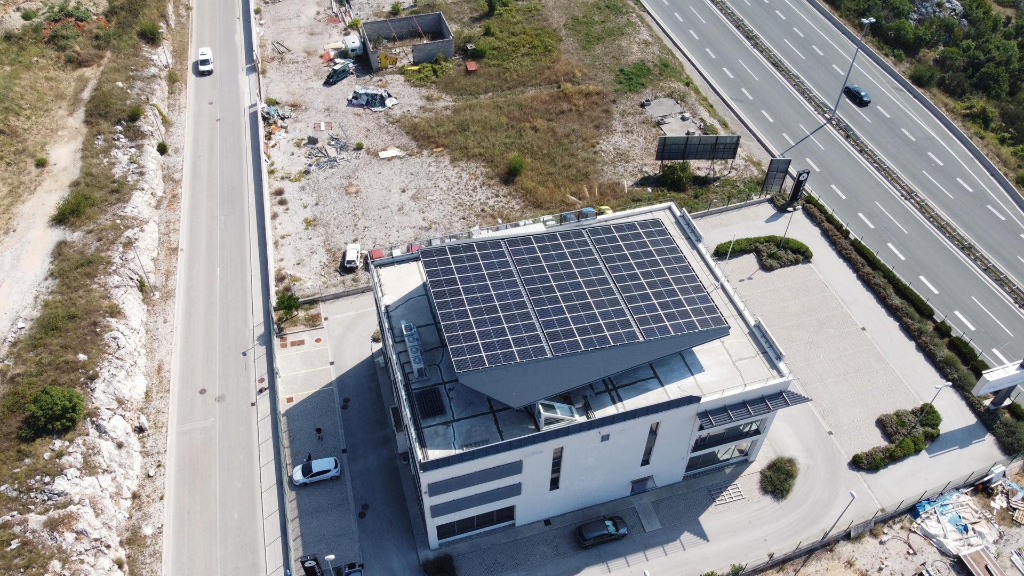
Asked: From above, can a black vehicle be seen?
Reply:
Yes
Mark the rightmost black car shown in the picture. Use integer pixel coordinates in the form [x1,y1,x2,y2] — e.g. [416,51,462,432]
[844,89,870,108]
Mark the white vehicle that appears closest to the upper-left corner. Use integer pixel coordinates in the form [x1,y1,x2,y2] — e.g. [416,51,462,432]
[196,47,215,75]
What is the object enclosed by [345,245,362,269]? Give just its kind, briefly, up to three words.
car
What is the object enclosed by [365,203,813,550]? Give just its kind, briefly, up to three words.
building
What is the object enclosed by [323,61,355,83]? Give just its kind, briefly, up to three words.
vehicle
